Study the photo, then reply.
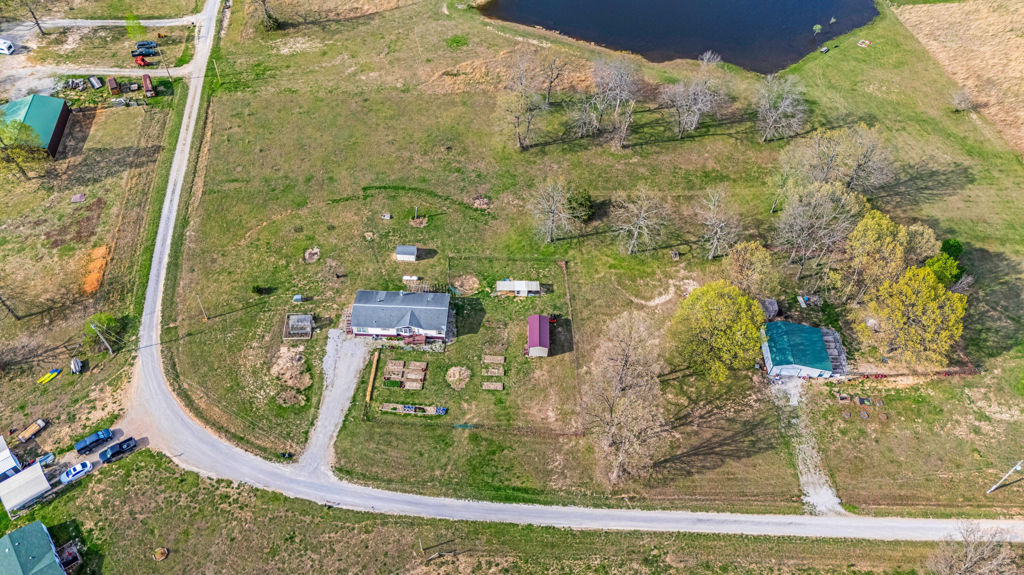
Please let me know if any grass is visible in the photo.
Yes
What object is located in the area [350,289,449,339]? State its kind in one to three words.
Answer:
house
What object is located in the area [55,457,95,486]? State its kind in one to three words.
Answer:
car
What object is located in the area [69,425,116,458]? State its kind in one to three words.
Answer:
truck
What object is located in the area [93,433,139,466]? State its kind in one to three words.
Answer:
truck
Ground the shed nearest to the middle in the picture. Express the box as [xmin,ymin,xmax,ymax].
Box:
[497,281,540,296]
